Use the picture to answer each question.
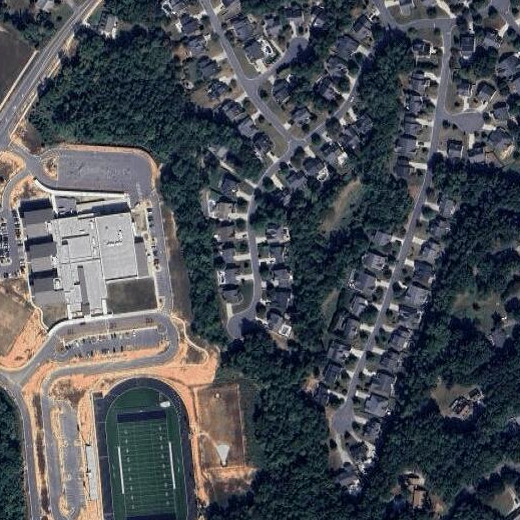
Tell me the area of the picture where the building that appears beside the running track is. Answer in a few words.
left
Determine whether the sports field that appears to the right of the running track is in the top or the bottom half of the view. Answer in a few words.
bottom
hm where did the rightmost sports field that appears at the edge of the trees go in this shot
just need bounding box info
[197,386,245,467]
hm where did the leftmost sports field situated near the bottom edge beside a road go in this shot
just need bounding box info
[105,386,188,520]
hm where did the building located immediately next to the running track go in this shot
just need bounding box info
[20,195,150,324]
